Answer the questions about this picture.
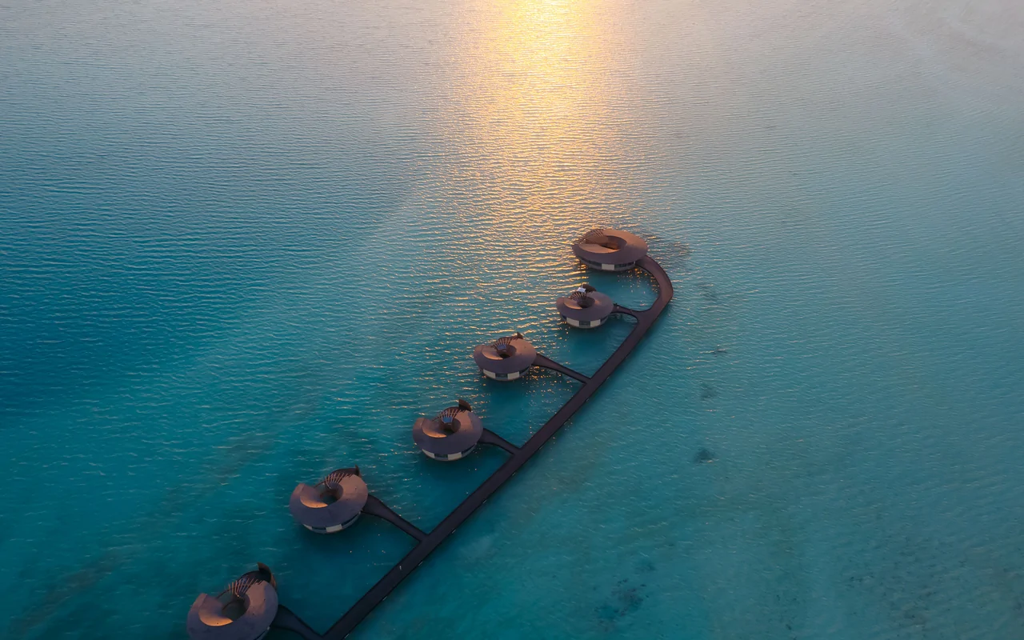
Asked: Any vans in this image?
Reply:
No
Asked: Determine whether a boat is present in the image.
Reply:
No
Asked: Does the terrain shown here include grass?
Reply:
No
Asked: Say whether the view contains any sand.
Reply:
No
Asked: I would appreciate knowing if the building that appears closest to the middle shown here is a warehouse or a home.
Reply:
home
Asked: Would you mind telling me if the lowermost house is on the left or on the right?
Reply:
left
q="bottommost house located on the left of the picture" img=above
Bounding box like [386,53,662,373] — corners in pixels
[183,566,280,640]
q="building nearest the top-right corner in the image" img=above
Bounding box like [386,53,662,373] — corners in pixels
[572,232,648,272]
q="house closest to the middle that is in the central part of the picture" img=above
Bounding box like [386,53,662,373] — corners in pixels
[473,333,537,383]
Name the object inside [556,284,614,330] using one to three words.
house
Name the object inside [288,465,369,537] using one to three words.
house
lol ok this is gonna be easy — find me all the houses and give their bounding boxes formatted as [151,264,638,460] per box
[183,566,280,640]
[288,465,369,537]
[412,400,484,465]
[556,284,614,330]
[572,232,648,272]
[473,333,537,383]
